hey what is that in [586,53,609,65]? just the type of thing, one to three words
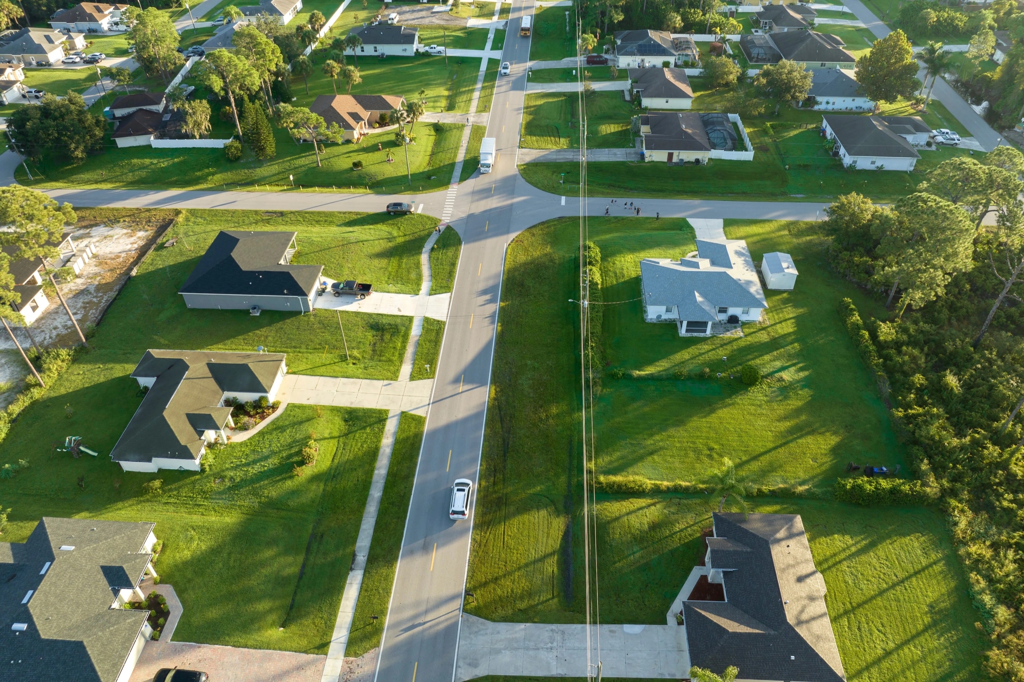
vehicle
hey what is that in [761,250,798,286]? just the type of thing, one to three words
shed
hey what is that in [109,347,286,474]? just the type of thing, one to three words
house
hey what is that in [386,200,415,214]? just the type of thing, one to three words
car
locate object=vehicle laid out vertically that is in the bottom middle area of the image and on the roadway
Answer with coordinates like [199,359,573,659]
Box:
[449,476,472,518]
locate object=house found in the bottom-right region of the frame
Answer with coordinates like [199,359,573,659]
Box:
[681,511,848,682]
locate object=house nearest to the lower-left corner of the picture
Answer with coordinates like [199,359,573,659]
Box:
[0,517,159,682]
